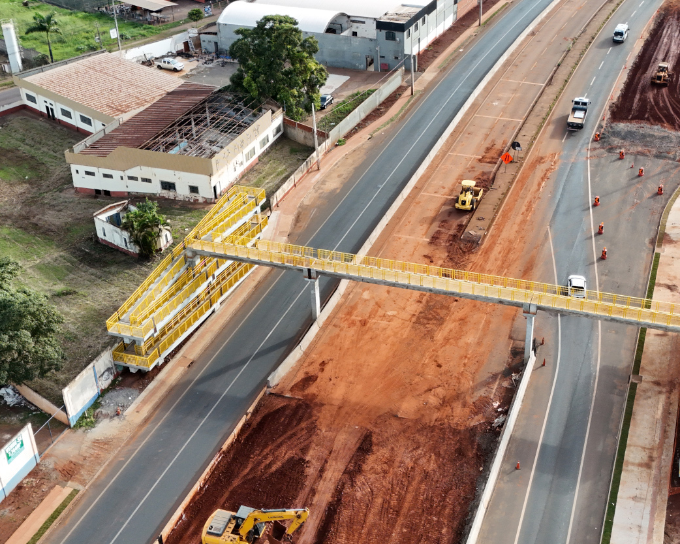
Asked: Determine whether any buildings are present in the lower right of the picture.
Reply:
No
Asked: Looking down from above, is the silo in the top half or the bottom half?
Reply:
top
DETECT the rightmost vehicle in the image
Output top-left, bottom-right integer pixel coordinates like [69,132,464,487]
[652,59,672,84]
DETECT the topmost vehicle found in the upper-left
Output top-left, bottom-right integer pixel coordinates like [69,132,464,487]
[153,57,187,72]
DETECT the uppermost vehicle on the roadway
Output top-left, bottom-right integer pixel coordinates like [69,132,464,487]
[611,24,628,42]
